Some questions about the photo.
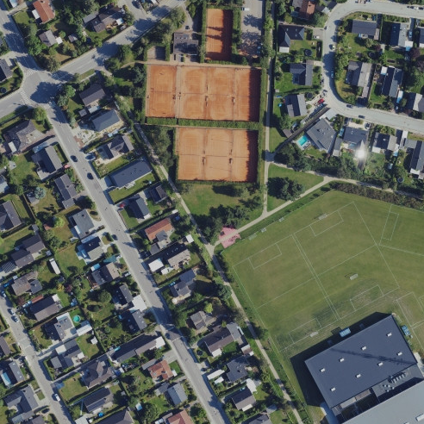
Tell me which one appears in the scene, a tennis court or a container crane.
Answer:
tennis court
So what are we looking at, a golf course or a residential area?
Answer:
residential area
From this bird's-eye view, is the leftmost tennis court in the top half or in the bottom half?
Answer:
top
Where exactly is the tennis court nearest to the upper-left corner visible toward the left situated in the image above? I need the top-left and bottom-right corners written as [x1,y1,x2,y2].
[145,66,177,117]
